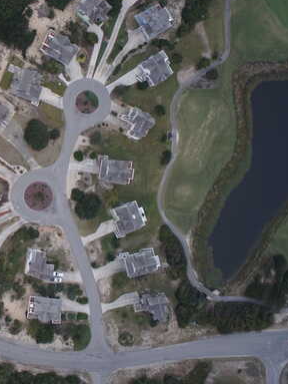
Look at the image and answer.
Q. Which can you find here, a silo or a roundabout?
roundabout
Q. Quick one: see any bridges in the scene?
No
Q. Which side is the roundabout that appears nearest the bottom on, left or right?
left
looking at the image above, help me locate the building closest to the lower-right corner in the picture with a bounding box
[132,293,166,320]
